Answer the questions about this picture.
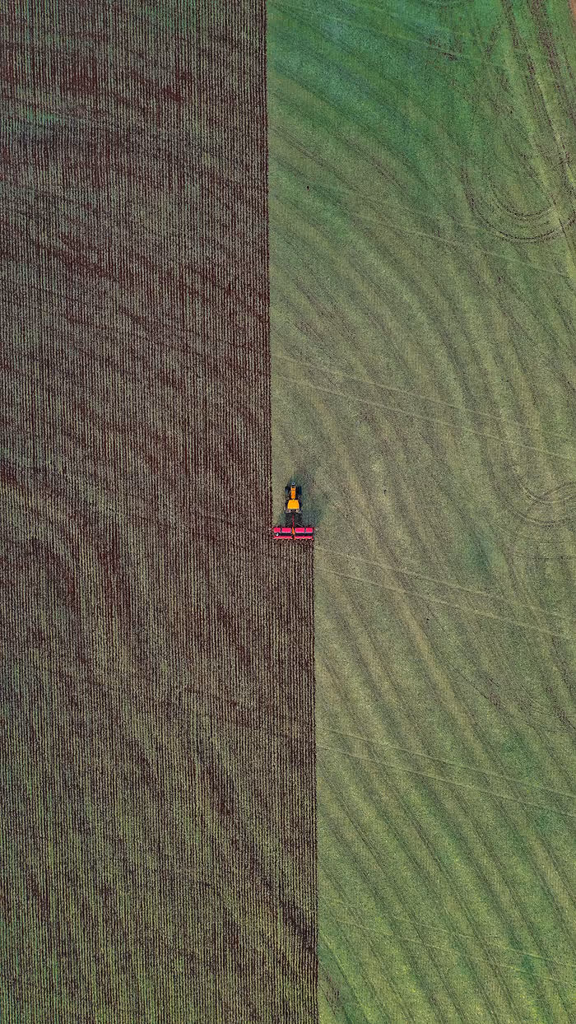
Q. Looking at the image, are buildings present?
No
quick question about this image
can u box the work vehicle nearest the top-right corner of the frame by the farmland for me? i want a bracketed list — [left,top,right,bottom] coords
[283,481,303,515]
